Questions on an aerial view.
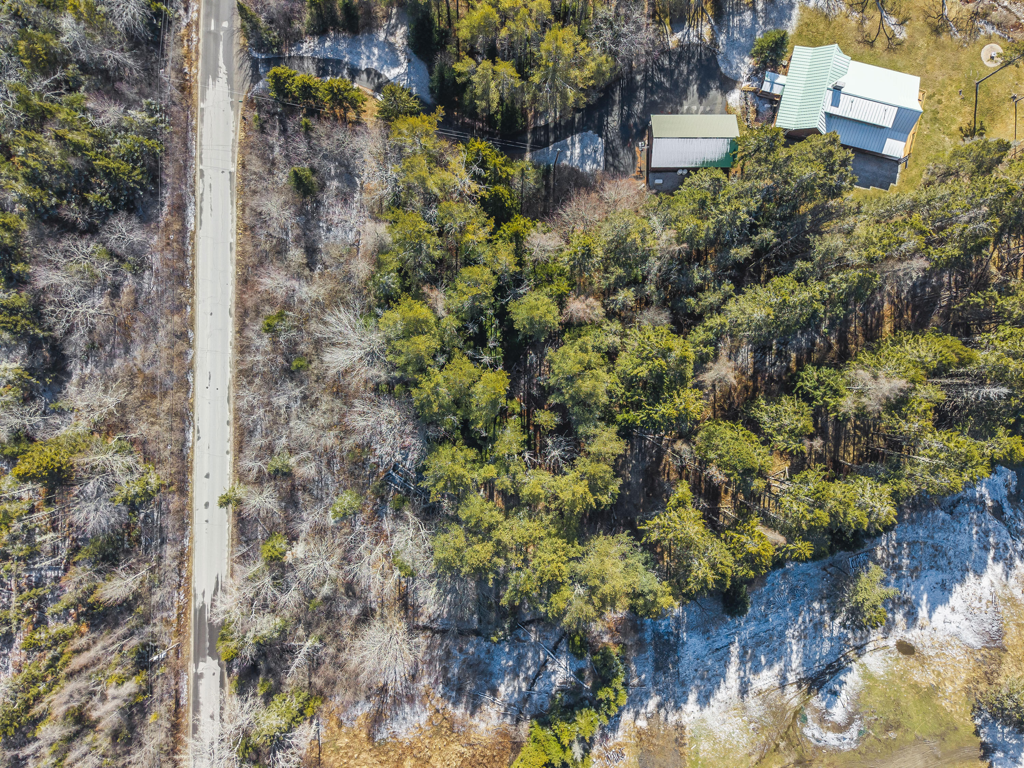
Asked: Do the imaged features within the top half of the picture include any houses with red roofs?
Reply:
No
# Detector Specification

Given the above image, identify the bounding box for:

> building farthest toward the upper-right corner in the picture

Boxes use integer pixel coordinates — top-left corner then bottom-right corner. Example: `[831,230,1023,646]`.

[739,42,927,174]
